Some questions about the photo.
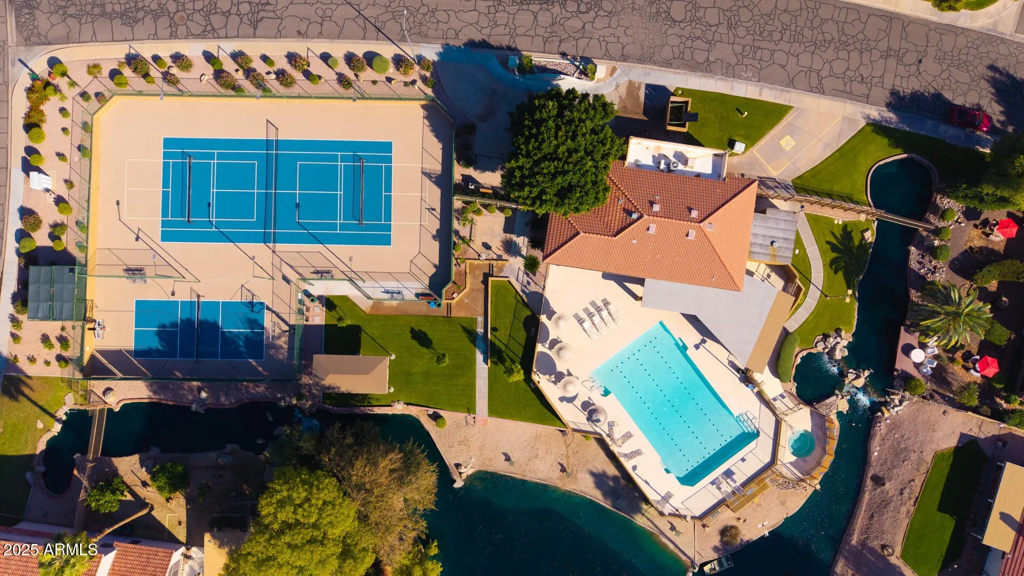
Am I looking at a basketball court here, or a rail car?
basketball court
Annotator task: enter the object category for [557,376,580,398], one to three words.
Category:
umbrella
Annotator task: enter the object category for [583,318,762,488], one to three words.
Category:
swimming pool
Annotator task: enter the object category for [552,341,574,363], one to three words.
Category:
umbrella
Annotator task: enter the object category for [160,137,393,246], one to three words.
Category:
tennis court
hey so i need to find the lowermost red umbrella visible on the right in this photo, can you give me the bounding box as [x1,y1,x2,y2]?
[970,356,997,377]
